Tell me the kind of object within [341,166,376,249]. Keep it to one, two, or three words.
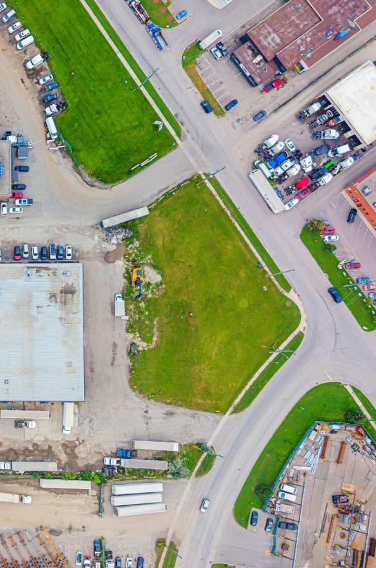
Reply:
building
